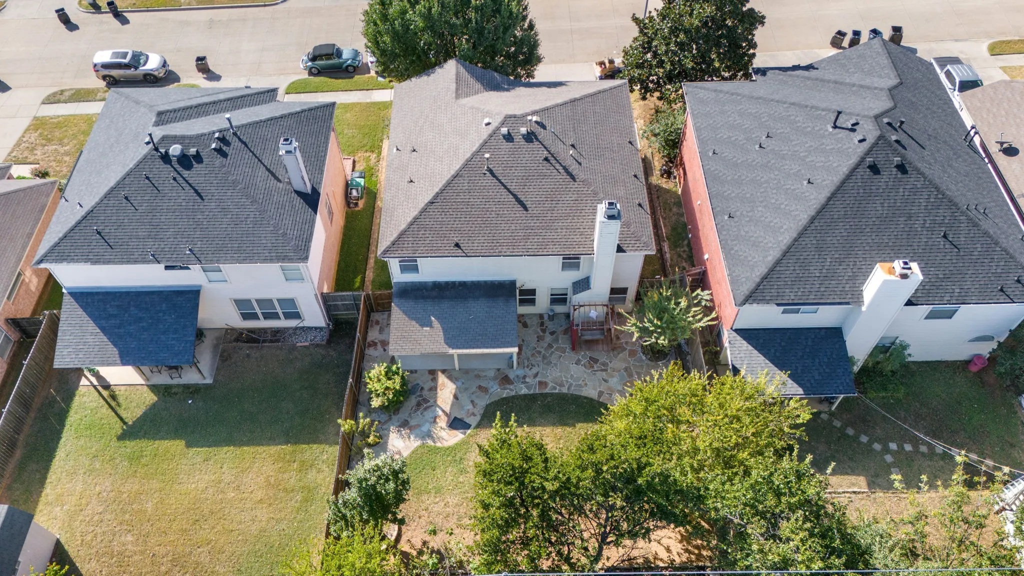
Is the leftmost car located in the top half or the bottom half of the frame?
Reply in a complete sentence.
You can find the leftmost car in the top half.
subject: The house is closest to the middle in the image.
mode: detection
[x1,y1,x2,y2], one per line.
[376,57,656,371]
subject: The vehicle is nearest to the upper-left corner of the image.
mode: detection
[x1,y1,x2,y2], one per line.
[88,46,169,84]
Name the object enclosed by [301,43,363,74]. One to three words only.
car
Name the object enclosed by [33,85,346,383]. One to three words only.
house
